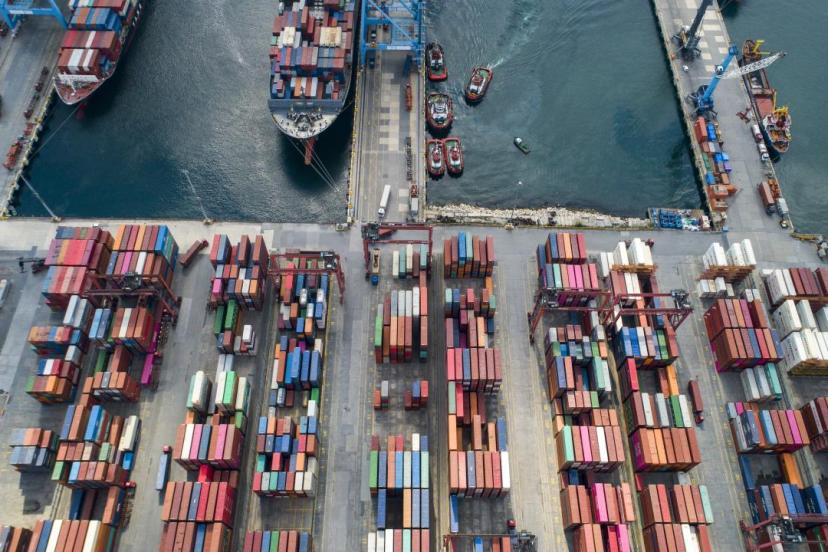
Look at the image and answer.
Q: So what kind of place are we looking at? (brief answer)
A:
port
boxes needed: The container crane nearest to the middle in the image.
[361,222,437,276]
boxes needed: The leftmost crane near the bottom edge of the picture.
[440,526,537,552]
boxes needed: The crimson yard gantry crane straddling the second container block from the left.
[82,272,180,326]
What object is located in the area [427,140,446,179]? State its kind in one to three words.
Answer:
boat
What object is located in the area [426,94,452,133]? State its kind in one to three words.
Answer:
boat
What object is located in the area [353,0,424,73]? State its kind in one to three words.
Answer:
container crane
